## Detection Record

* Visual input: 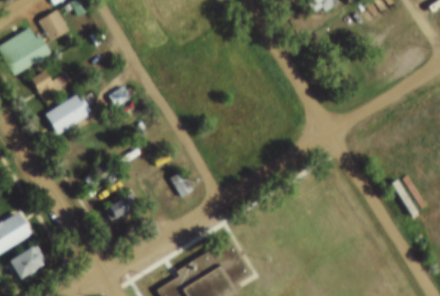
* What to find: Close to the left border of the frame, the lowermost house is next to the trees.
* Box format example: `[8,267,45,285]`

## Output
[10,246,46,279]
